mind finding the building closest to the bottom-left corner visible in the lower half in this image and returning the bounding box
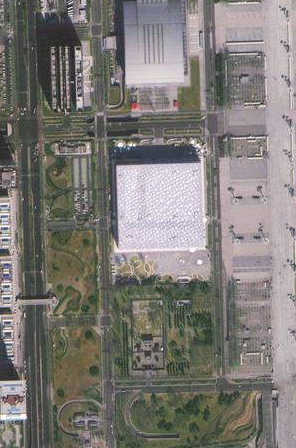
[0,380,26,422]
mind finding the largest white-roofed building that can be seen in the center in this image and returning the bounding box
[115,162,206,251]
